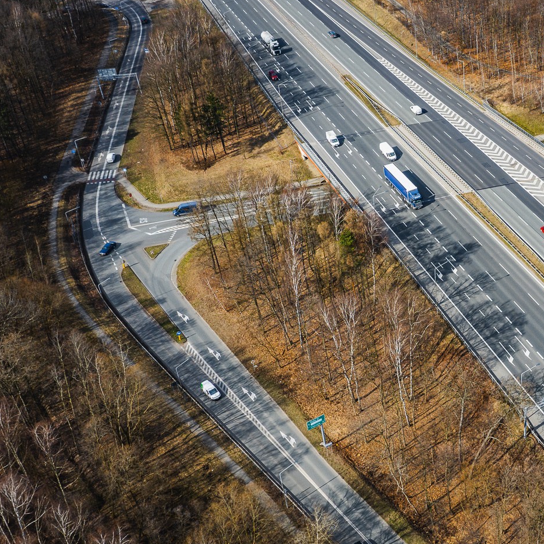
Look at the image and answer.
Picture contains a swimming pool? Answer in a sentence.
No, I find no swimming pool anywhere in the image.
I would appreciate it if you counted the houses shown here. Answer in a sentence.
The count of houses is 0.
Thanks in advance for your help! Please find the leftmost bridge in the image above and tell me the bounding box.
[284,130,369,230]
